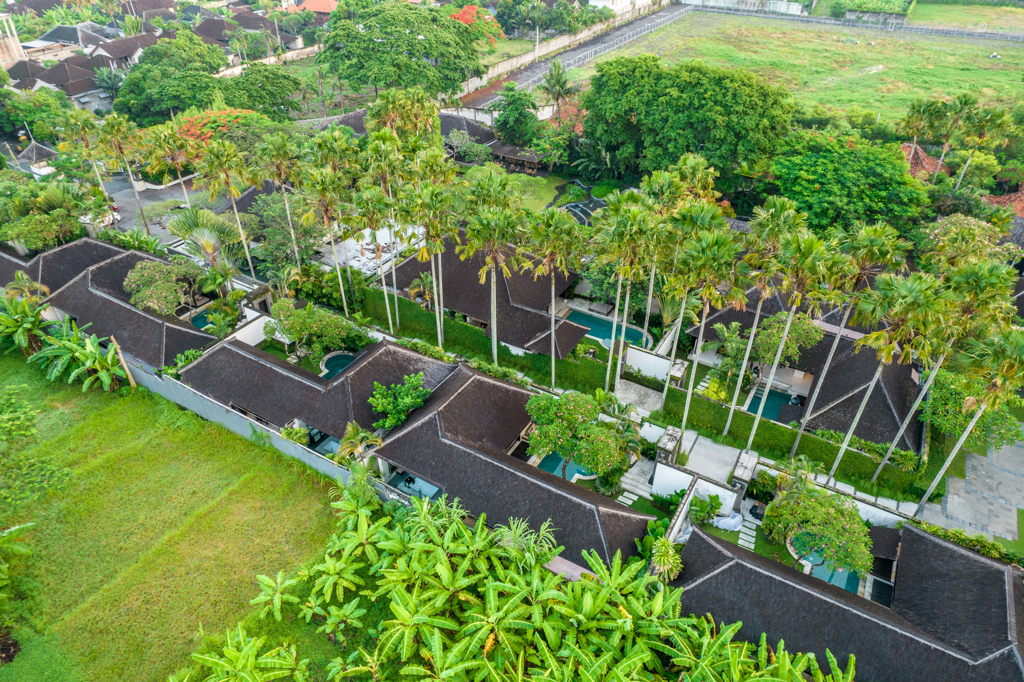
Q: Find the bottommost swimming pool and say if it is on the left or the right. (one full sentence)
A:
The bottommost swimming pool appears in the right half of the scene.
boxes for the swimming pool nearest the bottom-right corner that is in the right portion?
[783,547,873,598]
